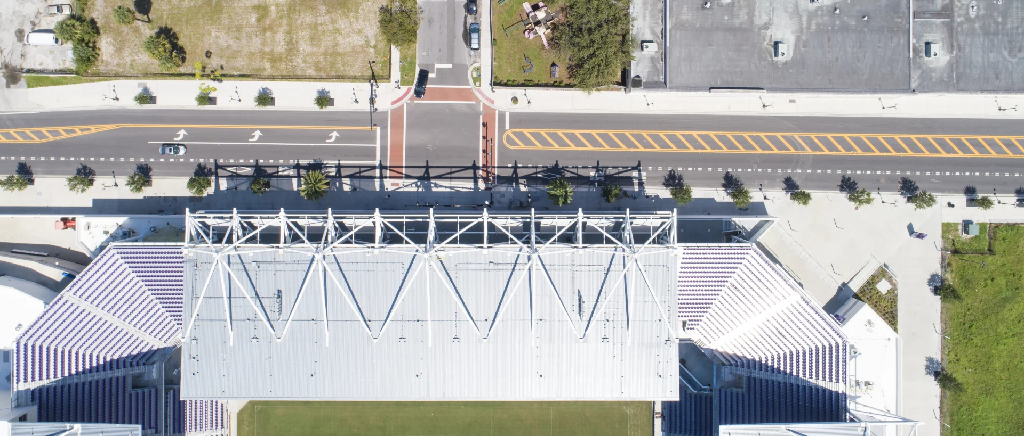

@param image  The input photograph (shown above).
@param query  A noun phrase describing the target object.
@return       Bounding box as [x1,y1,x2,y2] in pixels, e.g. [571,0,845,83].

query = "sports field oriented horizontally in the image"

[237,400,652,436]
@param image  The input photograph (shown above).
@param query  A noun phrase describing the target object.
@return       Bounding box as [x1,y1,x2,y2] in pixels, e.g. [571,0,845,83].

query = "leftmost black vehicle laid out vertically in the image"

[413,69,428,98]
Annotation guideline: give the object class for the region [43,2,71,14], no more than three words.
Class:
vehicle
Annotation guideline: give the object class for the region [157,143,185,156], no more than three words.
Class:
vehicle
